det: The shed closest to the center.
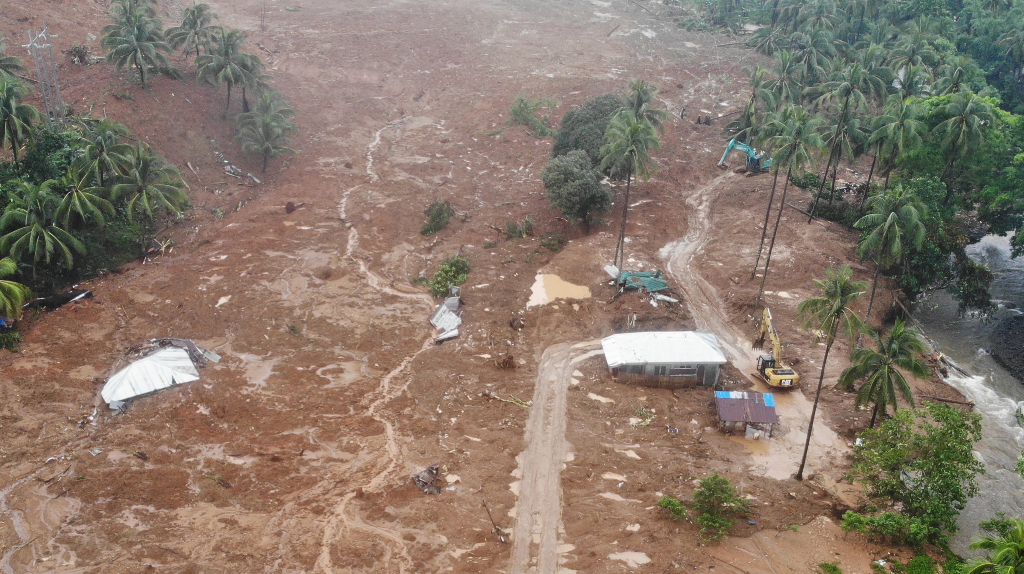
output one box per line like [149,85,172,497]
[430,286,465,342]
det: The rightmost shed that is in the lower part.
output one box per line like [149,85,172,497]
[714,392,777,439]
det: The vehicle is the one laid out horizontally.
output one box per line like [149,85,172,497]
[713,145,769,176]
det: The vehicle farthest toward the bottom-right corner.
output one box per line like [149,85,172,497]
[744,291,802,388]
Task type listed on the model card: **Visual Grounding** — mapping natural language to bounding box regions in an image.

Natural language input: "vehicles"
[744,291,802,388]
[713,145,769,176]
